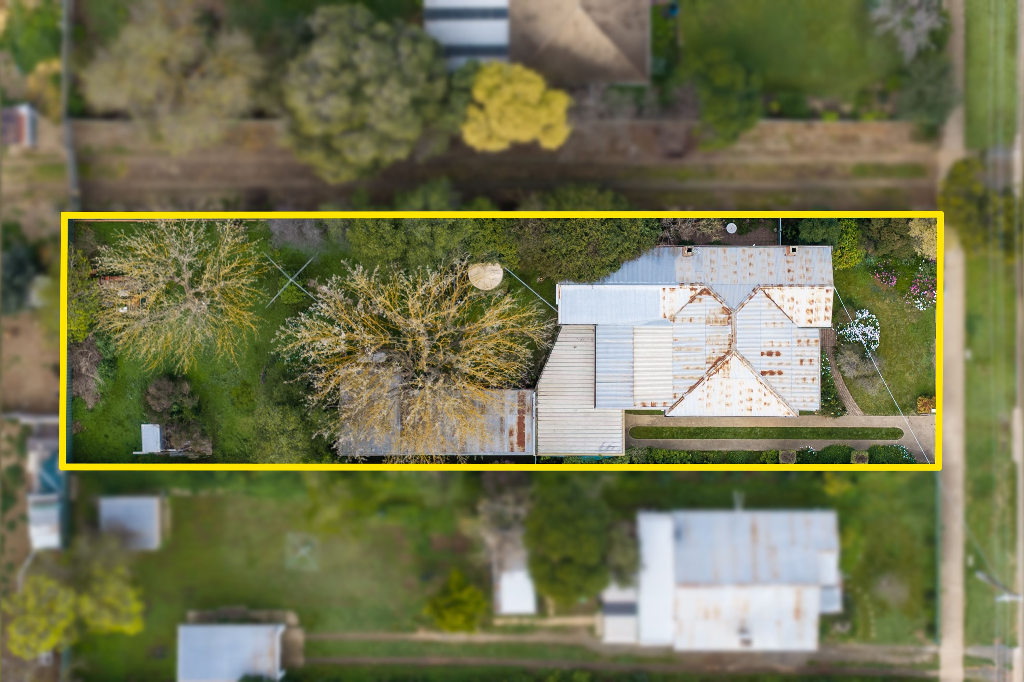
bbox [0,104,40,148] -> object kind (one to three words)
shed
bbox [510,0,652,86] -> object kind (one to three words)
house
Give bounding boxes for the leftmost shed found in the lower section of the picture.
[27,495,63,548]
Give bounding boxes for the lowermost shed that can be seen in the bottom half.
[178,620,283,682]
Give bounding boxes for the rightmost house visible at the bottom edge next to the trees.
[638,509,842,652]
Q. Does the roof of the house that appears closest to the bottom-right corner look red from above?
No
